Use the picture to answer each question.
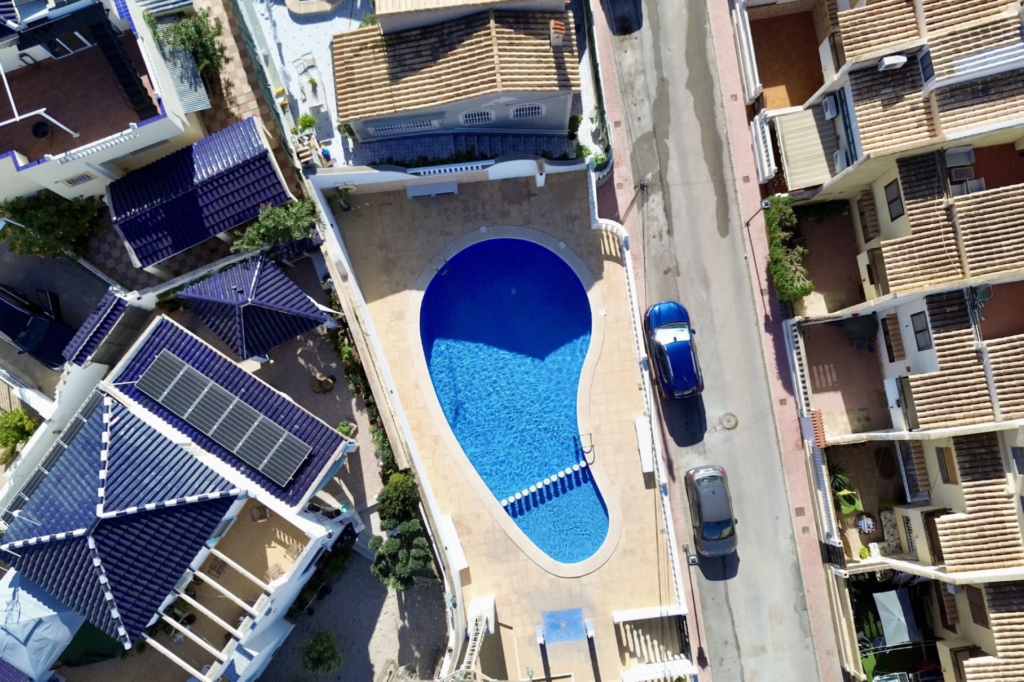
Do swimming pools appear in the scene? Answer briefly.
Yes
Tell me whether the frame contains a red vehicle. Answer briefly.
No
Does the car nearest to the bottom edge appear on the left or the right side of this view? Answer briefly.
right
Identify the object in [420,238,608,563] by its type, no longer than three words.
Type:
swimming pool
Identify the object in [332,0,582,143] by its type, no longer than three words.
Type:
house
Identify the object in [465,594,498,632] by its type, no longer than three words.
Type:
shed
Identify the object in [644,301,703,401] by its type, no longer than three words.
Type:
car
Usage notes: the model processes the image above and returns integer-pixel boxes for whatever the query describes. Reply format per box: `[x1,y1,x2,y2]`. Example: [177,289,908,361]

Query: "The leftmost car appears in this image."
[0,296,73,378]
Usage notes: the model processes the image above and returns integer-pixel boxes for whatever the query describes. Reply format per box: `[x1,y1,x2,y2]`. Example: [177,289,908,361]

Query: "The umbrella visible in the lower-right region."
[866,588,918,648]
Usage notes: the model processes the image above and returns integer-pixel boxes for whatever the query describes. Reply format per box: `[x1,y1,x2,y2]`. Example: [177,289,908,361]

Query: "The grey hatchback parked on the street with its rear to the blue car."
[683,463,739,559]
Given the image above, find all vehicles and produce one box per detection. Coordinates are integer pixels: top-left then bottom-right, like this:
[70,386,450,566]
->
[683,463,739,559]
[644,301,703,401]
[0,296,73,378]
